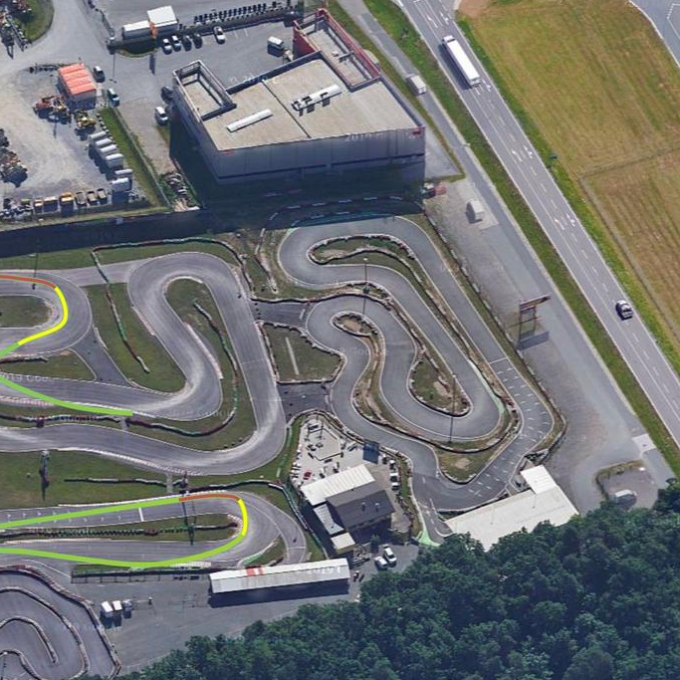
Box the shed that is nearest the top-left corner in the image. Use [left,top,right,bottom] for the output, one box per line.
[59,64,97,109]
